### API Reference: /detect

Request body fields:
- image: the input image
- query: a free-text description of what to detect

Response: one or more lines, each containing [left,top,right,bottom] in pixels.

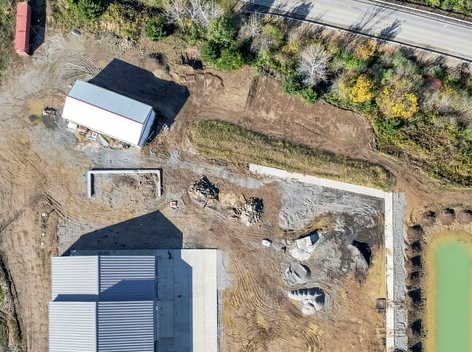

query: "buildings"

[50,255,160,352]
[64,80,155,148]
